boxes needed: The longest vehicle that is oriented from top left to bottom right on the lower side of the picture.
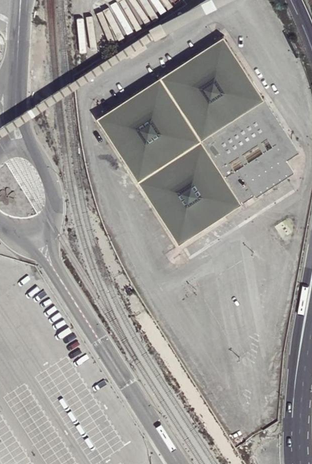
[155,426,176,452]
